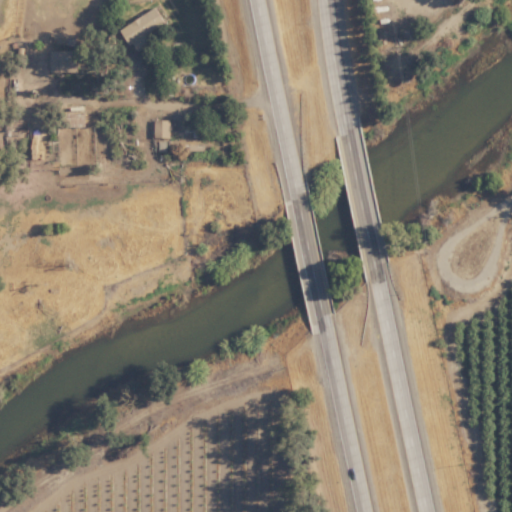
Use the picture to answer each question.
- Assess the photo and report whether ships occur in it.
No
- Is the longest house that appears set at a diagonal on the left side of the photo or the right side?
left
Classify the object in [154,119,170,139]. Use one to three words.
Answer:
shed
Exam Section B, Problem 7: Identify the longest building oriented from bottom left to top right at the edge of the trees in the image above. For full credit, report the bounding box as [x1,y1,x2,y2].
[120,8,167,46]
